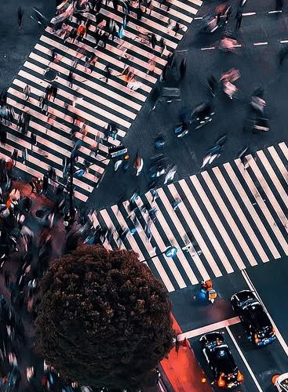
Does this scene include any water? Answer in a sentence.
No, the scene doesn't show any water.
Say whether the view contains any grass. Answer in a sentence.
No, no grass is visible.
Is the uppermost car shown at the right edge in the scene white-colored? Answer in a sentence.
No, the uppermost car shown at the right edge is actually black.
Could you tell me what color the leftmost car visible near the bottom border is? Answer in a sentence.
The color of the leftmost car visible near the bottom border is black.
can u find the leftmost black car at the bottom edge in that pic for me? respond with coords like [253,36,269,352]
[197,327,244,389]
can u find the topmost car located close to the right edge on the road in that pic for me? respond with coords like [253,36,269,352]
[232,284,280,346]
